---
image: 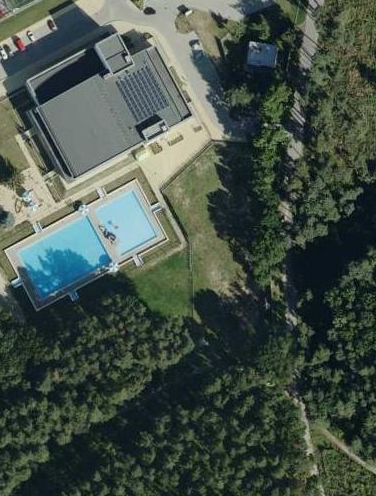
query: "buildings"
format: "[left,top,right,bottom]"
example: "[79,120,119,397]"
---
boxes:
[26,32,192,182]
[248,42,279,68]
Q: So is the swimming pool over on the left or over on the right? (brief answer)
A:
left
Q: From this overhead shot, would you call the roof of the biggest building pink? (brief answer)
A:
No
